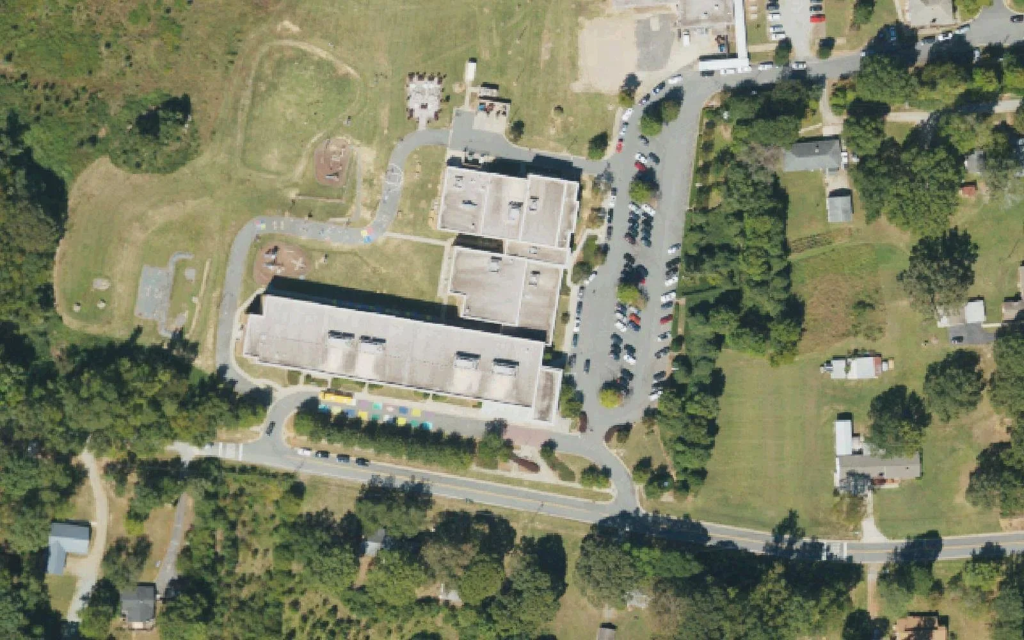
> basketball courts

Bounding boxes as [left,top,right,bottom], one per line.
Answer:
[135,252,194,337]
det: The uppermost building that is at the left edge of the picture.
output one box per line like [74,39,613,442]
[48,522,96,574]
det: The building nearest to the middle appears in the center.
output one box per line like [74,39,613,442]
[447,240,567,345]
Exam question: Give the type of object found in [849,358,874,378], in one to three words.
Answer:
shed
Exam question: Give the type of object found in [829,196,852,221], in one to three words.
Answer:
shed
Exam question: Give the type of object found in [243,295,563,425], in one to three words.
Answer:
building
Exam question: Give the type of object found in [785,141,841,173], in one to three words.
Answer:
house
